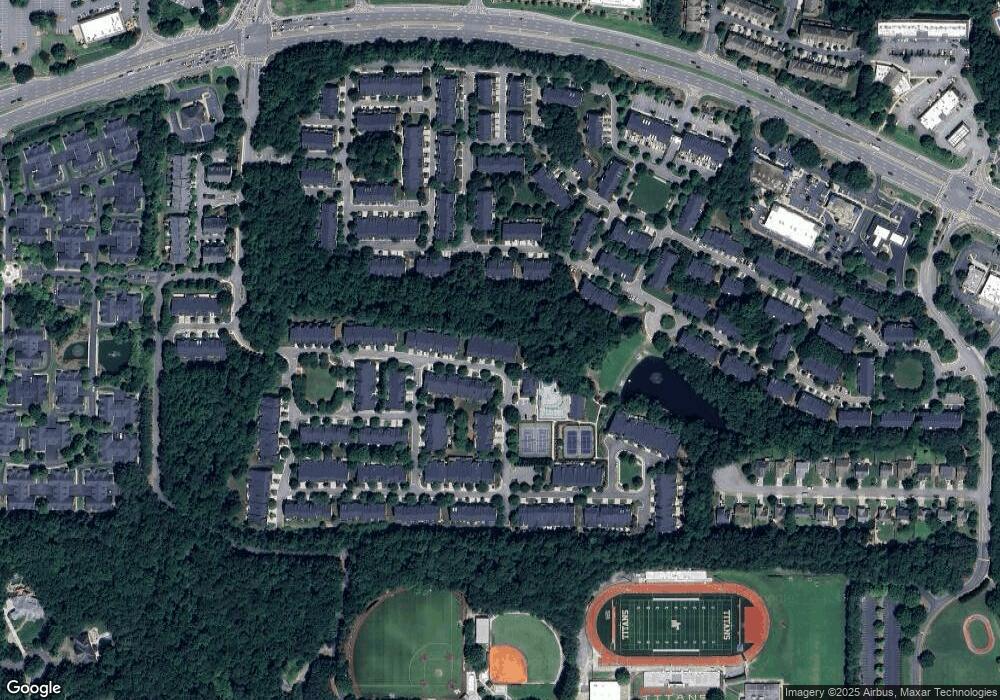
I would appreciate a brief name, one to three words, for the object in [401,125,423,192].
house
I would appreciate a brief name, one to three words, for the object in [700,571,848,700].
sports field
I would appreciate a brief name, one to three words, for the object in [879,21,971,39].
building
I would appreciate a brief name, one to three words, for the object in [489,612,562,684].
baseball field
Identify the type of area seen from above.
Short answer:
residential area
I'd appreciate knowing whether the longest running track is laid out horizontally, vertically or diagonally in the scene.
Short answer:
horizontally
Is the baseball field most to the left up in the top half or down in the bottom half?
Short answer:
bottom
